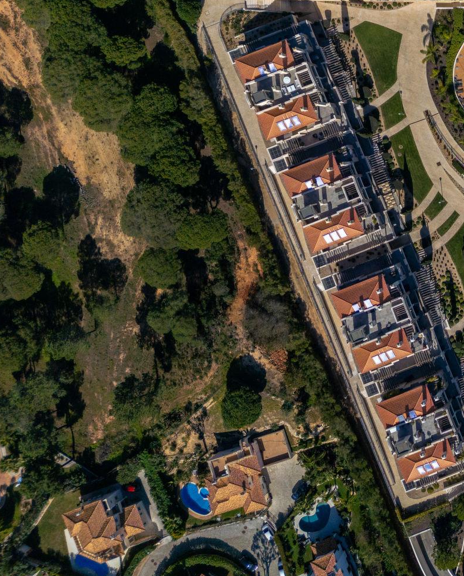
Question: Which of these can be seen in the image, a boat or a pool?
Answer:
pool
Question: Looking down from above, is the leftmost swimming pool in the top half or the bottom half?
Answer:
bottom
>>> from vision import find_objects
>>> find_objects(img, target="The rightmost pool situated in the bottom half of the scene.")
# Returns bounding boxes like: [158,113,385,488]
[298,502,332,534]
